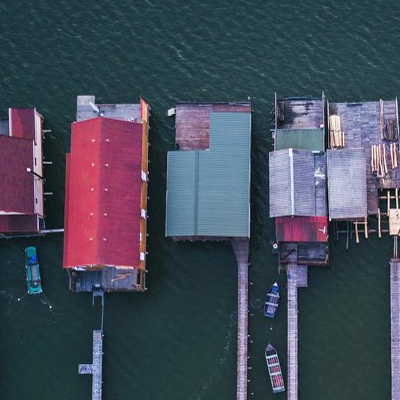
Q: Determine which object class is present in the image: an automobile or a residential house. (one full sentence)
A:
Of the two, only a residential house appears.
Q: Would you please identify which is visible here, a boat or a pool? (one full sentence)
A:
The one in the frame is a boat.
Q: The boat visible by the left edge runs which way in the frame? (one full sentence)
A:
What the image shows is the boat visible by the left edge lying up and down.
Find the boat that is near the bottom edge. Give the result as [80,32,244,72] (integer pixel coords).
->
[265,343,286,394]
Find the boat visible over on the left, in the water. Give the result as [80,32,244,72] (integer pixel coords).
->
[20,246,51,306]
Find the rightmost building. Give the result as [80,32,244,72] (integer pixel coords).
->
[327,96,400,250]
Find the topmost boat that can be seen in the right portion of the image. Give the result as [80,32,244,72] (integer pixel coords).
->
[262,282,279,318]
